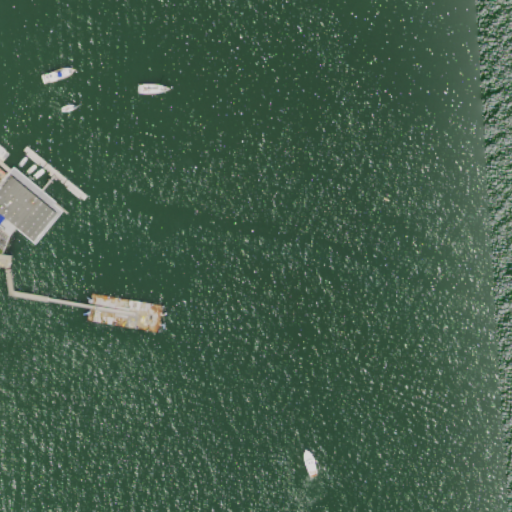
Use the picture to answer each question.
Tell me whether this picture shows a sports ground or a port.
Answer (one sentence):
This looks like a port.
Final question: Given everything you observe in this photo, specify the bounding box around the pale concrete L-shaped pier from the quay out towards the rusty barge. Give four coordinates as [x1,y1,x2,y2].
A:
[0,254,49,302]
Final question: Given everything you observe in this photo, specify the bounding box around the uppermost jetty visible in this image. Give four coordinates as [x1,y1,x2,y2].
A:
[24,147,87,200]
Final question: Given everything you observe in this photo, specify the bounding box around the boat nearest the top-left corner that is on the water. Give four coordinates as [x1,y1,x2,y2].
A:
[40,68,78,84]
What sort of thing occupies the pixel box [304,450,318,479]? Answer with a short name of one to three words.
boat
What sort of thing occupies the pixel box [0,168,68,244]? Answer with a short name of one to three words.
building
